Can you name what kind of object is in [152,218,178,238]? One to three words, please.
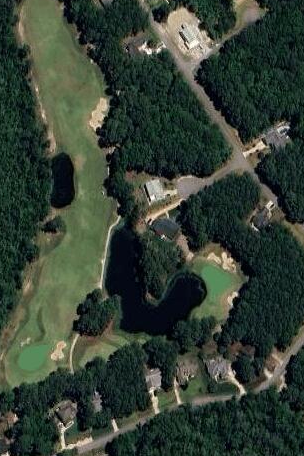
house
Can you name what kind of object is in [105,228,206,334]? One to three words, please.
pond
